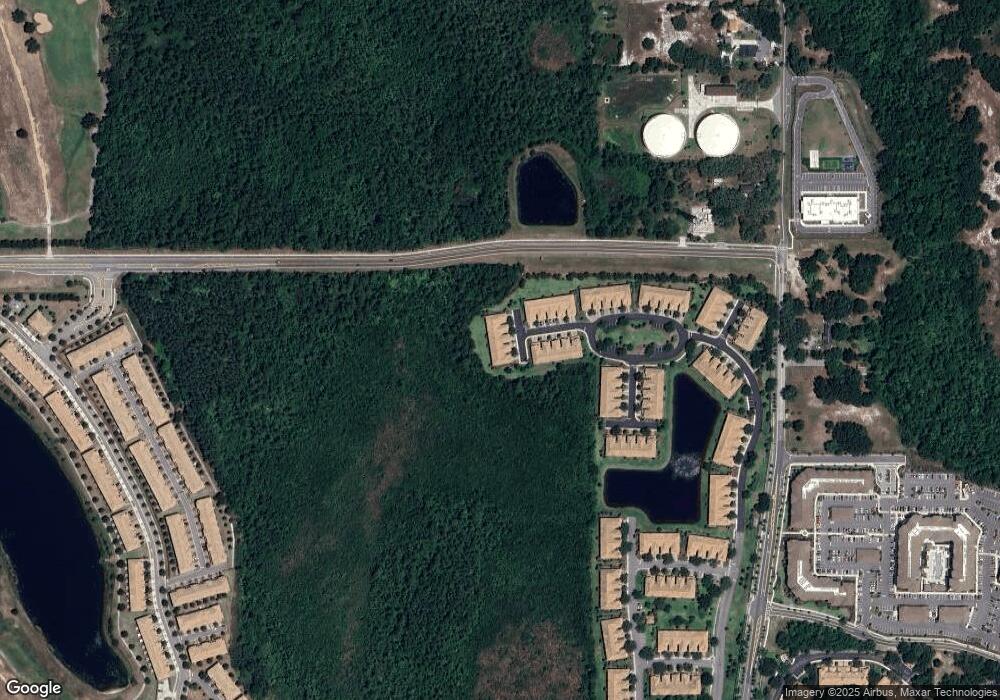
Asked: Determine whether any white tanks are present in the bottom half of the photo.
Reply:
No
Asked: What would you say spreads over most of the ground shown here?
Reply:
trees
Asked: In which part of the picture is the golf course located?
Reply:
top left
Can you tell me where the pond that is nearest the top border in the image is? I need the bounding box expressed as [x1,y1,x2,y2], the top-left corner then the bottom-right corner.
[516,152,578,226]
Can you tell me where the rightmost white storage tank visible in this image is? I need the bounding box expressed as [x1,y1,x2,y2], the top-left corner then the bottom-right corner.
[697,113,740,157]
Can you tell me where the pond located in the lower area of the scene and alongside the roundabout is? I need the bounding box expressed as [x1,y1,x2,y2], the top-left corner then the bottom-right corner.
[604,374,721,524]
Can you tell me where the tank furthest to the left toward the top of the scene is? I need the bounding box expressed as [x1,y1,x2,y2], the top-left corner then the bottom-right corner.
[644,114,687,158]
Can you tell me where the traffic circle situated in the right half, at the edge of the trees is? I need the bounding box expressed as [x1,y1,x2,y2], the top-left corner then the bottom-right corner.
[587,312,687,363]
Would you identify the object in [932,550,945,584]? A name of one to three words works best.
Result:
swimming pool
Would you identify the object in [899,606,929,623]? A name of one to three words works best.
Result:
building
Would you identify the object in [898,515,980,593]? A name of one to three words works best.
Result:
building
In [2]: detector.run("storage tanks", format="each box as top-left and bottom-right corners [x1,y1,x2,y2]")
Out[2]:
[644,114,687,158]
[697,113,740,157]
